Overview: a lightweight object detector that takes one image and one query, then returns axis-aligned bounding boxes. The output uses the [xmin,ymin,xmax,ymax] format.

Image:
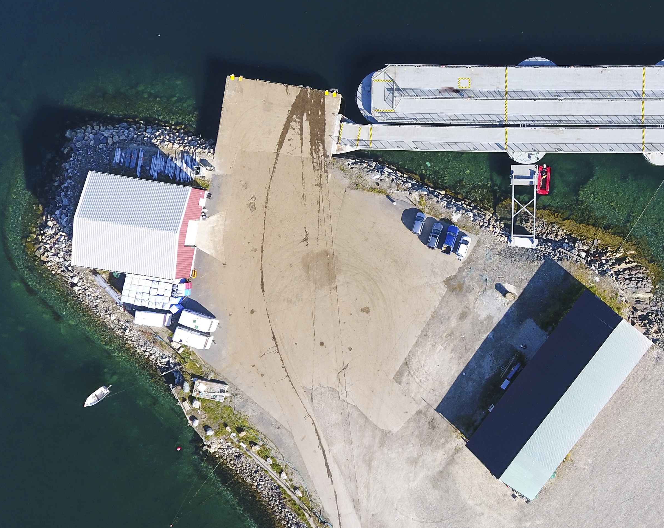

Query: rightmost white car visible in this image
[456,235,470,262]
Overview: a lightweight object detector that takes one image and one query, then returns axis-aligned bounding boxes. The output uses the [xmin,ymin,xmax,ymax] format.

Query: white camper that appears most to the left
[135,308,180,326]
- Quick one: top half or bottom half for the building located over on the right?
bottom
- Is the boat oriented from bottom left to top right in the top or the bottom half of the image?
bottom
